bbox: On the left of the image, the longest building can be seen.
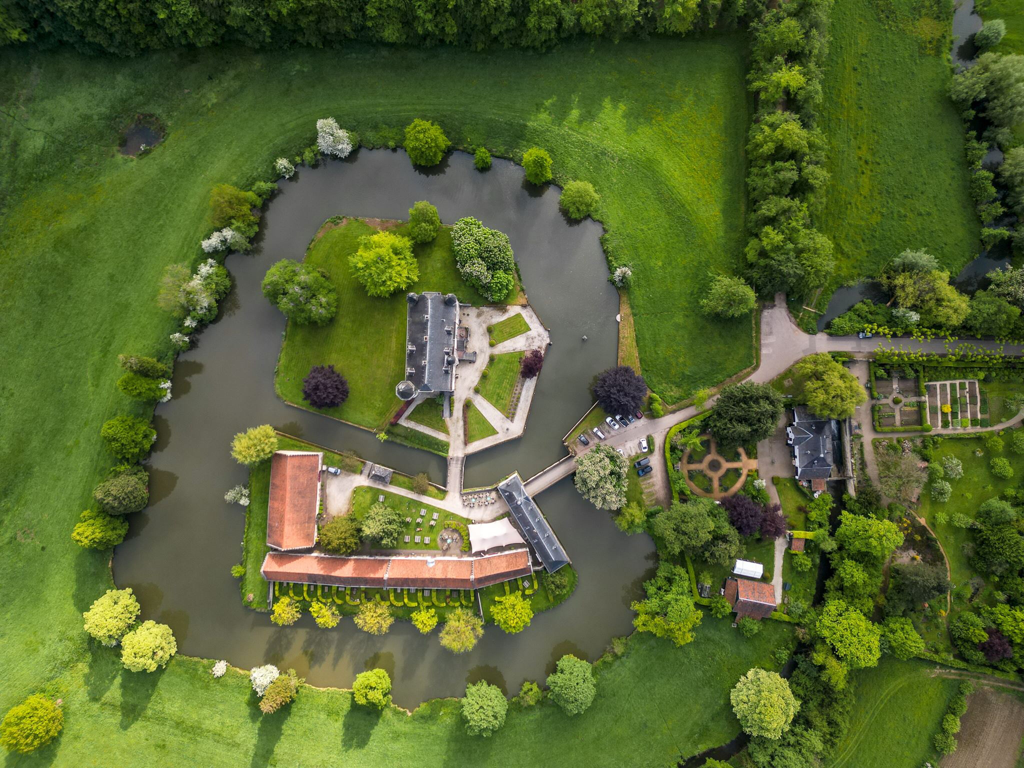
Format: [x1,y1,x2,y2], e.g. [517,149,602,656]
[263,548,534,590]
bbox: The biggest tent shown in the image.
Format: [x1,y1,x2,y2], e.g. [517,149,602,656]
[468,516,526,554]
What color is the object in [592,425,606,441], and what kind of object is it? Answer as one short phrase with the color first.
white car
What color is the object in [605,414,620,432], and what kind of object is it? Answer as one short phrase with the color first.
white car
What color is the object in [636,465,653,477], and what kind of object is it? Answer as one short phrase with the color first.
blue vehicle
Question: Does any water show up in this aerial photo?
Yes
